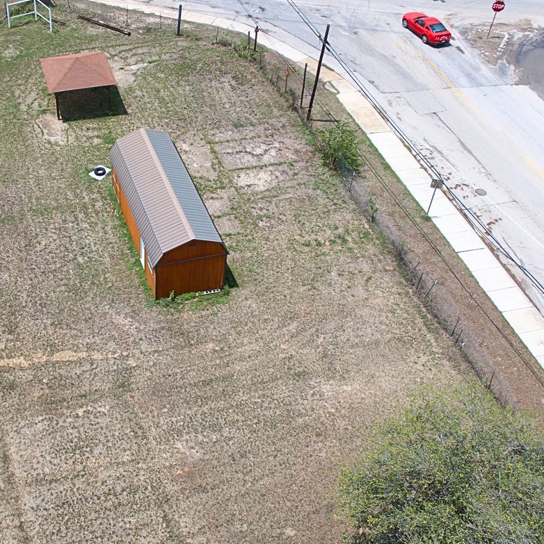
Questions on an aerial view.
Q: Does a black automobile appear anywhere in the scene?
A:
No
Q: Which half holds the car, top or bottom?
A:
top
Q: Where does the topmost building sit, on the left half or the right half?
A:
left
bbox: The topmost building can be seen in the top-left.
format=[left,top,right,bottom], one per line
[40,50,118,120]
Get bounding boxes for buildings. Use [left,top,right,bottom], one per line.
[40,50,118,120]
[111,125,232,298]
